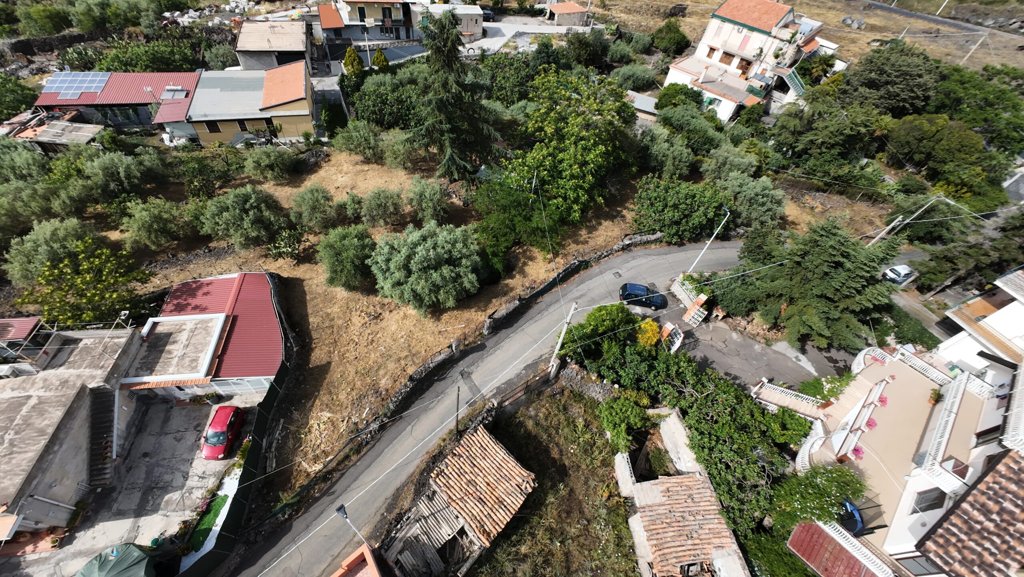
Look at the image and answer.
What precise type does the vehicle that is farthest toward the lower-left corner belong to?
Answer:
car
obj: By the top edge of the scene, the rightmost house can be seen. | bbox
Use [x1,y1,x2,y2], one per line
[663,0,839,119]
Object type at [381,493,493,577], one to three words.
shed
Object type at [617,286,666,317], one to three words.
car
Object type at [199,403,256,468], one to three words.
car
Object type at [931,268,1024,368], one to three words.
house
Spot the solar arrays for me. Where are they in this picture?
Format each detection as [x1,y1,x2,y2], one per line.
[42,72,112,100]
